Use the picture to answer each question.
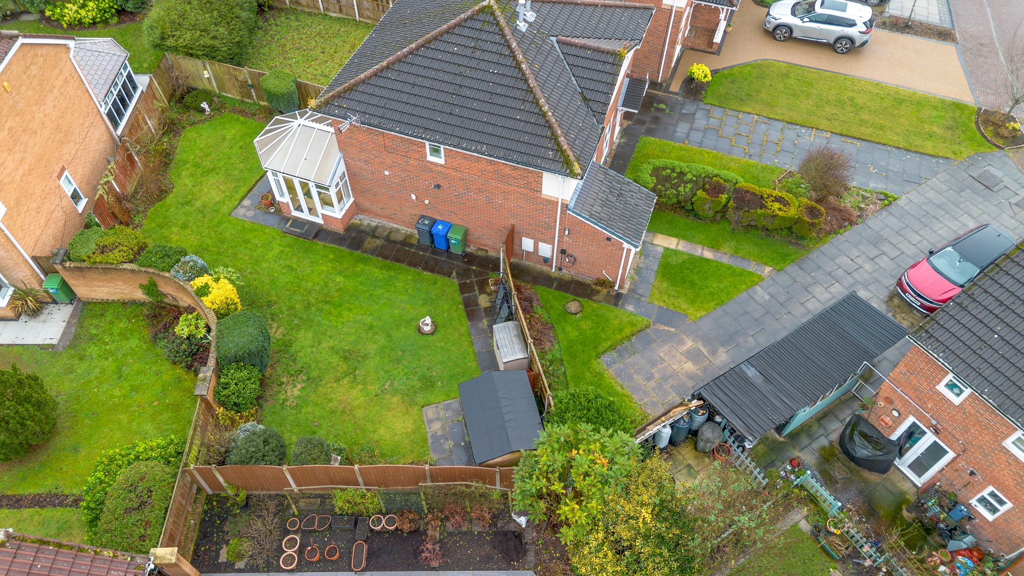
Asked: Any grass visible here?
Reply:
Yes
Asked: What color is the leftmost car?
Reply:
white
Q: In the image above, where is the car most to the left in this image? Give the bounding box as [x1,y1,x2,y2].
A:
[763,0,879,54]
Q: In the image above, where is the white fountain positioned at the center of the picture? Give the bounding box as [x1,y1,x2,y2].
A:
[417,313,433,333]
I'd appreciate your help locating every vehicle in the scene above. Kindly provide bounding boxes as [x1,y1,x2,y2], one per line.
[869,0,899,7]
[763,0,879,54]
[895,220,1019,315]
